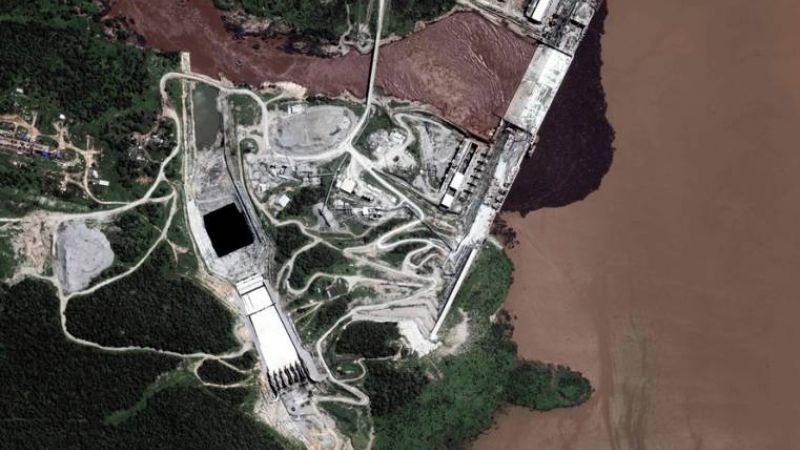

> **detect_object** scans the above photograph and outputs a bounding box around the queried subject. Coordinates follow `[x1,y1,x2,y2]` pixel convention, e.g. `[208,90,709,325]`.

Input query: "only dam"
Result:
[430,0,602,342]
